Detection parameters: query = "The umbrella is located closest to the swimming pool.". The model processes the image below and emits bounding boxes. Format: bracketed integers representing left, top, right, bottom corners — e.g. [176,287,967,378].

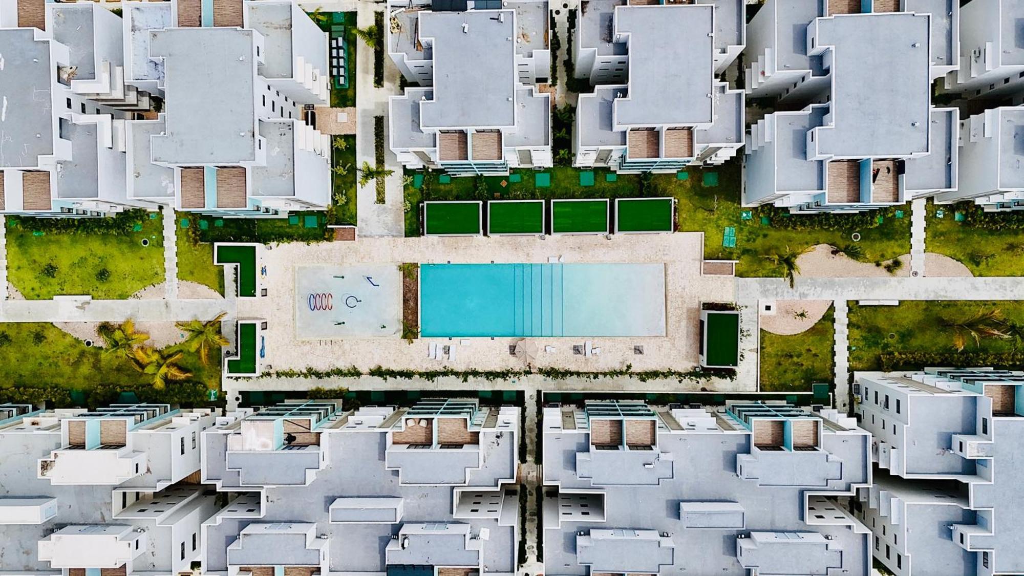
[515,338,537,360]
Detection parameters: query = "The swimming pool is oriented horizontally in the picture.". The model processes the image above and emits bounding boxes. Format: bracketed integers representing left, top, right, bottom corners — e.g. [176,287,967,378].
[419,261,667,338]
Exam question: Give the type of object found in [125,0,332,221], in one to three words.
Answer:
building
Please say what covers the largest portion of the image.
buildings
